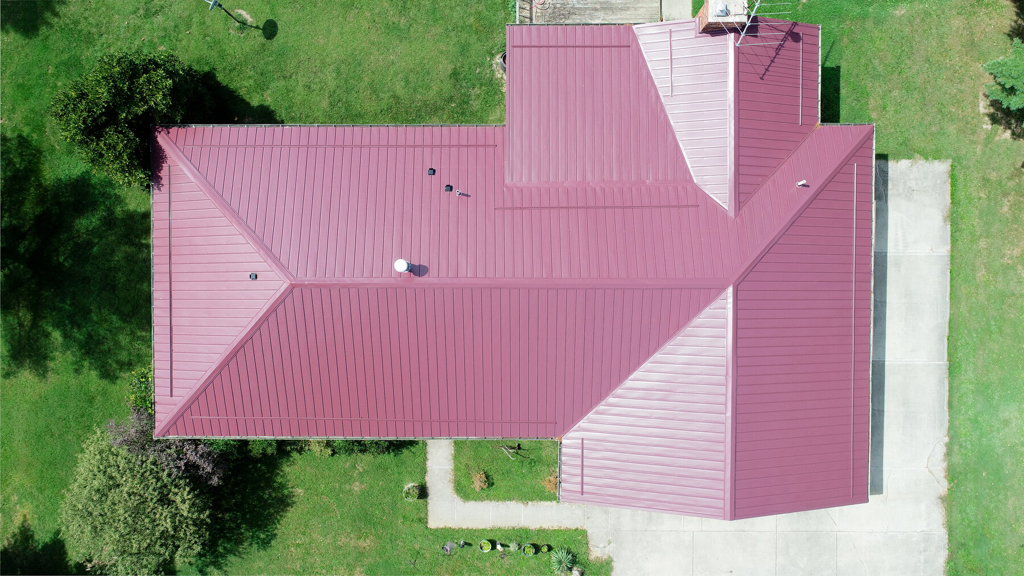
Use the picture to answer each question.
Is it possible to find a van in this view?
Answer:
No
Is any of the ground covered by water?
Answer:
No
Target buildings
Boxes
[149,13,876,522]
